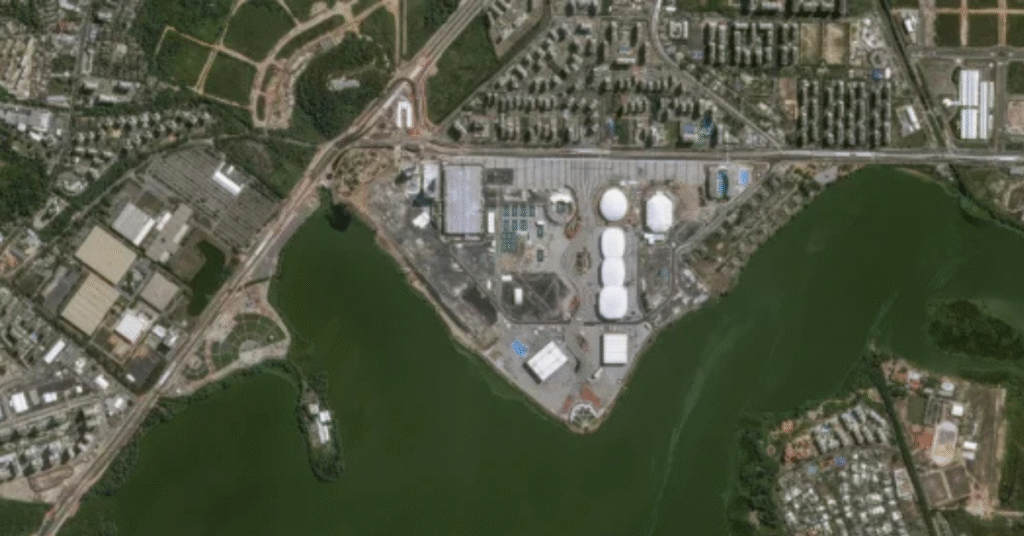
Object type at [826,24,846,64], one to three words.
soccer field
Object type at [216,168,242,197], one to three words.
building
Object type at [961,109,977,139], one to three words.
building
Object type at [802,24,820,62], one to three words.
soccer field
